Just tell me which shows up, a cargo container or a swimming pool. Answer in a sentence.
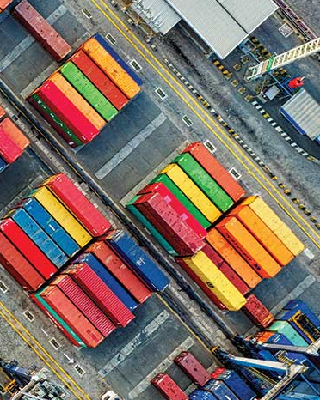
The one in the frame is a cargo container.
